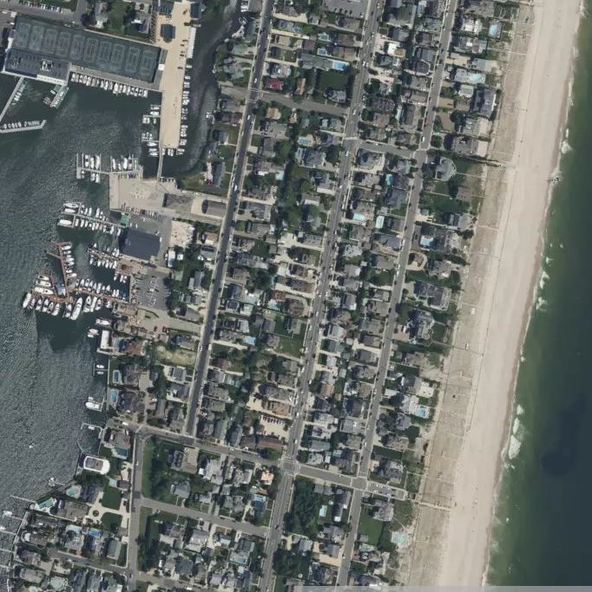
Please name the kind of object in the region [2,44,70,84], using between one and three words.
building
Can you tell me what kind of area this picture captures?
residential area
